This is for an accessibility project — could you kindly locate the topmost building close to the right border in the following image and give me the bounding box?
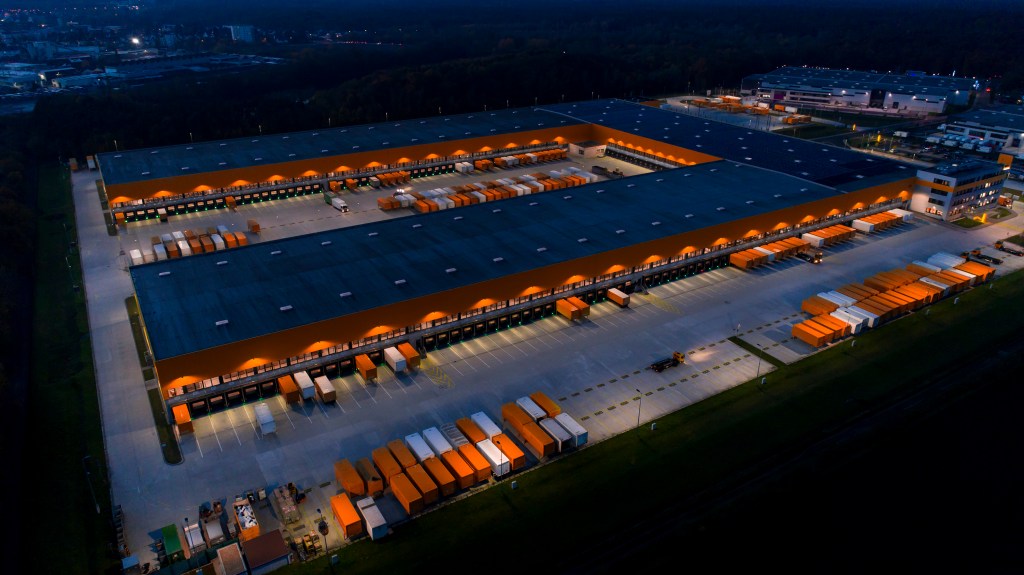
[740,66,983,112]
